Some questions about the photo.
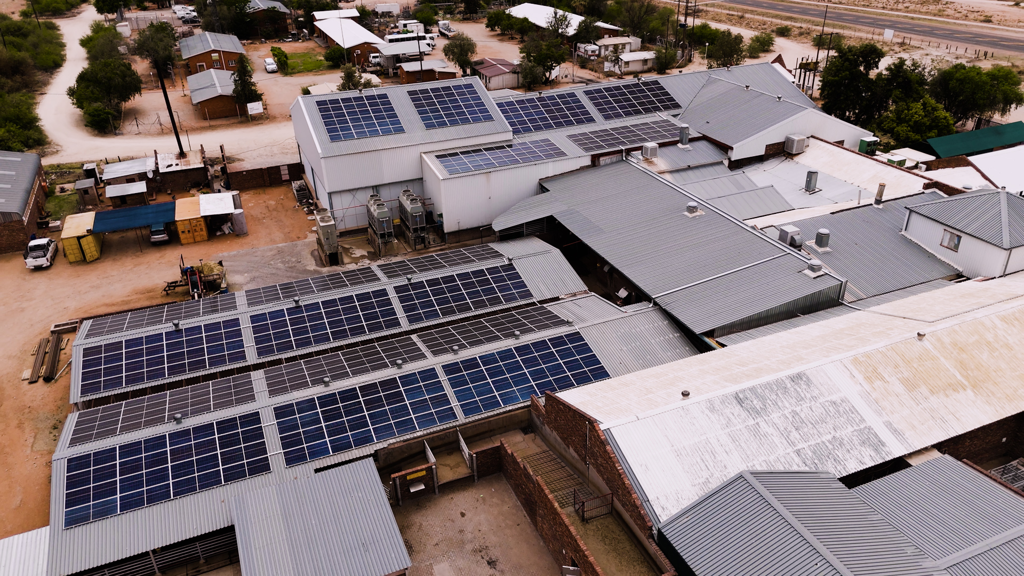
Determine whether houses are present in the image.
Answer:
Yes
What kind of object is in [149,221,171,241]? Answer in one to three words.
car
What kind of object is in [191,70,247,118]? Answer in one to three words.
house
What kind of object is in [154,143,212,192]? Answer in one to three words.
house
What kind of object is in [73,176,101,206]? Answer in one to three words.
shed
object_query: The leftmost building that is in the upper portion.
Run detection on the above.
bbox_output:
[0,152,52,255]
